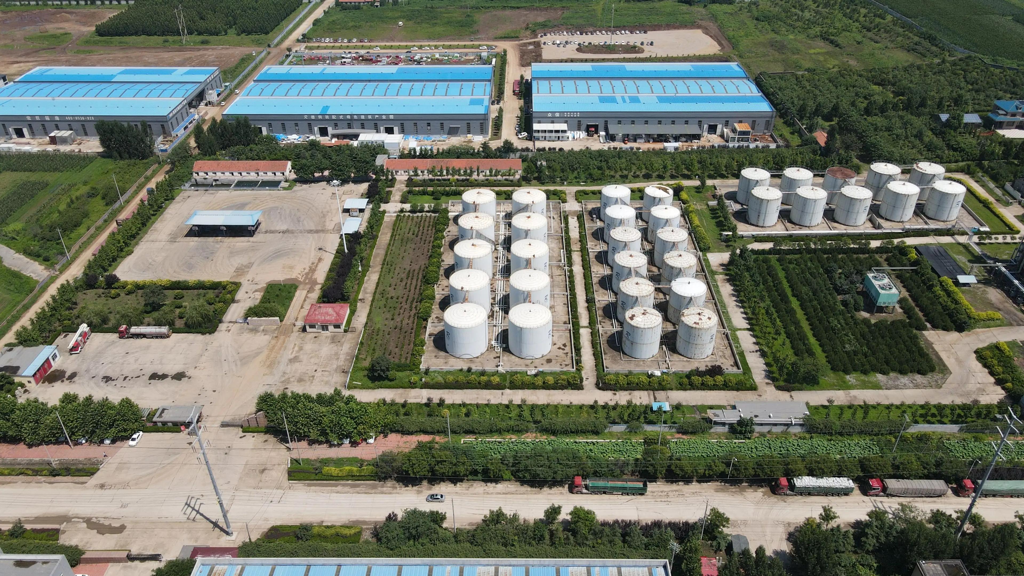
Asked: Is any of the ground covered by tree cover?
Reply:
Yes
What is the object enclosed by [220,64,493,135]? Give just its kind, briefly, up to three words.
building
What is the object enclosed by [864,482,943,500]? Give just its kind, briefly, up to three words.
vehicle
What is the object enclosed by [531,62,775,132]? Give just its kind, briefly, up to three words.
building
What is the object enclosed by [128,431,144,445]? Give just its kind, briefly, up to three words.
car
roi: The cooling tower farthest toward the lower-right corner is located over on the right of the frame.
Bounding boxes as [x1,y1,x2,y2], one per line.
[862,271,902,313]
